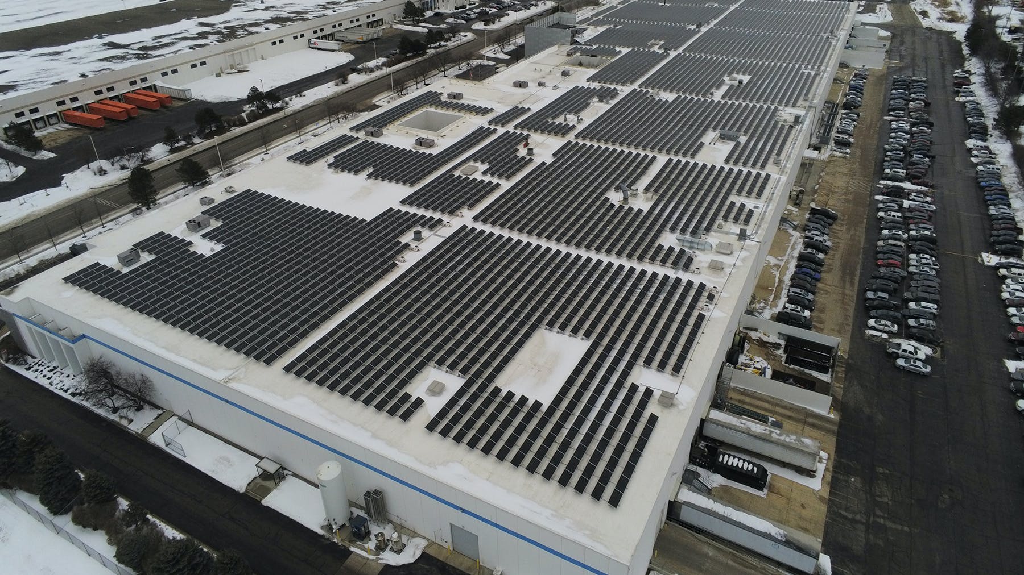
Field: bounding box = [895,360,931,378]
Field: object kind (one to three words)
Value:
car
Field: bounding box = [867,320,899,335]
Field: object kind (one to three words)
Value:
car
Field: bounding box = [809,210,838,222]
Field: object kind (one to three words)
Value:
vehicle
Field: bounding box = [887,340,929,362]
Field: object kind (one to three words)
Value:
truck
